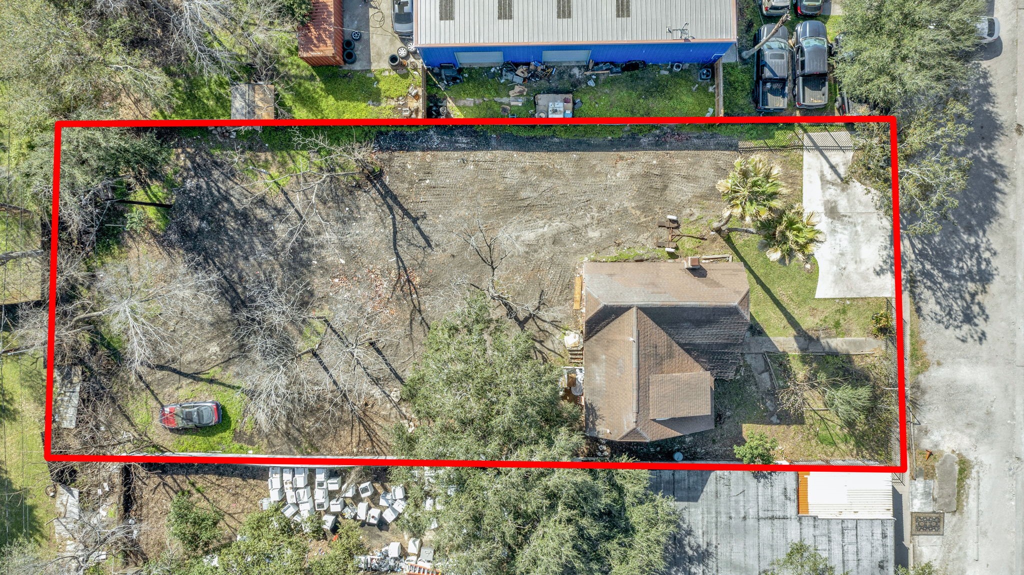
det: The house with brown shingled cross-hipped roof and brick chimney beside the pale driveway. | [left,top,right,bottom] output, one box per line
[581,258,752,442]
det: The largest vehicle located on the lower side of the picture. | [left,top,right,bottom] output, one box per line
[160,398,225,430]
